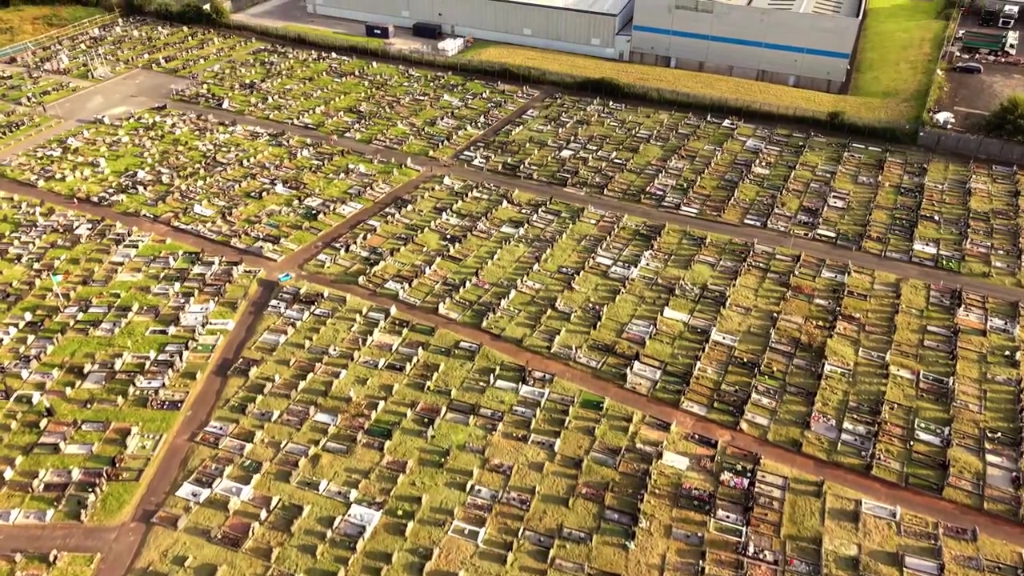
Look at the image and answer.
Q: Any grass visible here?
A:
Yes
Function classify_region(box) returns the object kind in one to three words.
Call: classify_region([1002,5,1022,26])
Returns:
vehicle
